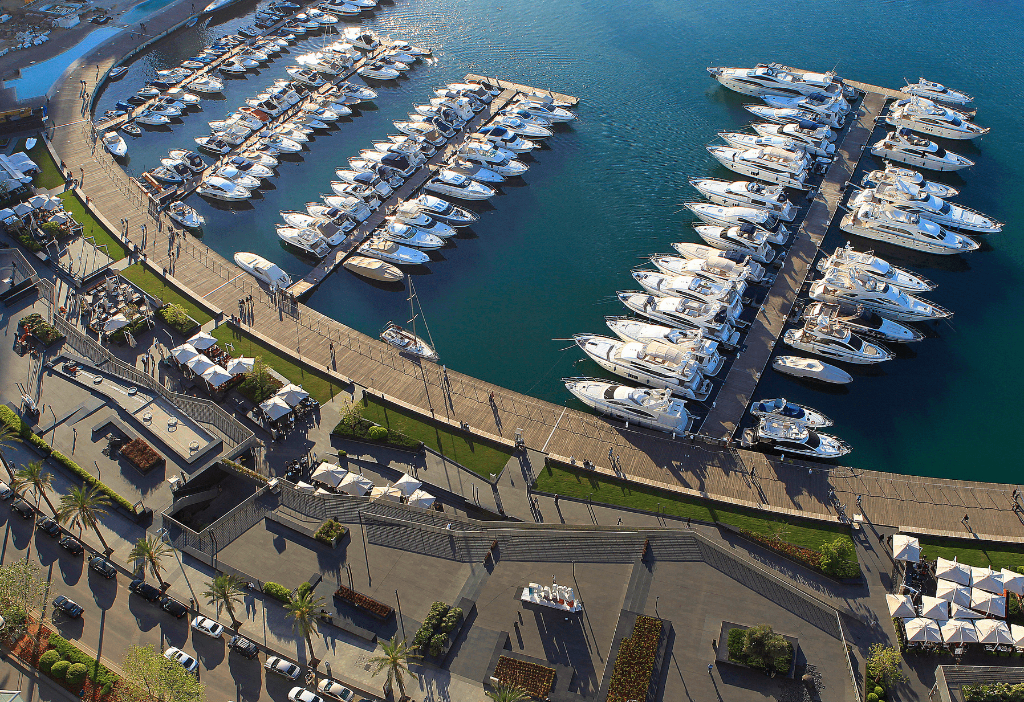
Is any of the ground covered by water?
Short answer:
Yes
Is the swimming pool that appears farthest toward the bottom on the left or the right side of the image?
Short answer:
left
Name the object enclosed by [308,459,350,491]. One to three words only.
umbrella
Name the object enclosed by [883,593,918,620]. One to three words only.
umbrella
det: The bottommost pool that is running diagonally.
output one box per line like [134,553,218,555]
[4,26,122,99]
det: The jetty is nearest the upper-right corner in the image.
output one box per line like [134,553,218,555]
[699,58,990,441]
